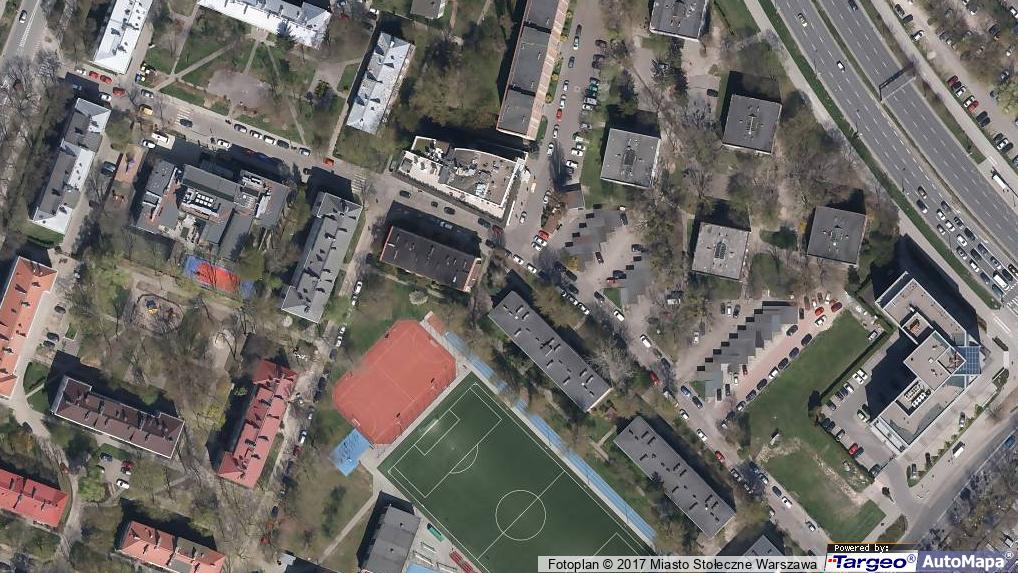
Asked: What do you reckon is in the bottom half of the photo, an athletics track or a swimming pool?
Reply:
athletics track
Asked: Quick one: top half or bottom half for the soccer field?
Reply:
bottom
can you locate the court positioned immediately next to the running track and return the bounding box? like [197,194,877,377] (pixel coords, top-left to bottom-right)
[333,320,456,444]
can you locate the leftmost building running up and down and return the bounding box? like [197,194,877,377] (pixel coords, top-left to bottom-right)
[0,256,61,398]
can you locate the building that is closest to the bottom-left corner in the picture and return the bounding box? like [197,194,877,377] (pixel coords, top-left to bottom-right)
[0,468,71,527]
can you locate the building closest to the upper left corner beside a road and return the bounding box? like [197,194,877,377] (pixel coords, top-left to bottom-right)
[94,0,155,75]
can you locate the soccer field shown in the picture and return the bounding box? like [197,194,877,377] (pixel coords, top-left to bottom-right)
[380,373,675,573]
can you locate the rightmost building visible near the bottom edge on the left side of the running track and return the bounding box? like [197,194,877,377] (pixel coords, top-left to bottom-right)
[366,505,423,573]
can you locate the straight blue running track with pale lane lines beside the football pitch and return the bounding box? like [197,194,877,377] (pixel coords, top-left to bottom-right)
[430,310,661,552]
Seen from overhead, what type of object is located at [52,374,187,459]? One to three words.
building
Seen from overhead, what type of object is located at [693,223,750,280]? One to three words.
building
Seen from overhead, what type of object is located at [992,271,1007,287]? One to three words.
vehicle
